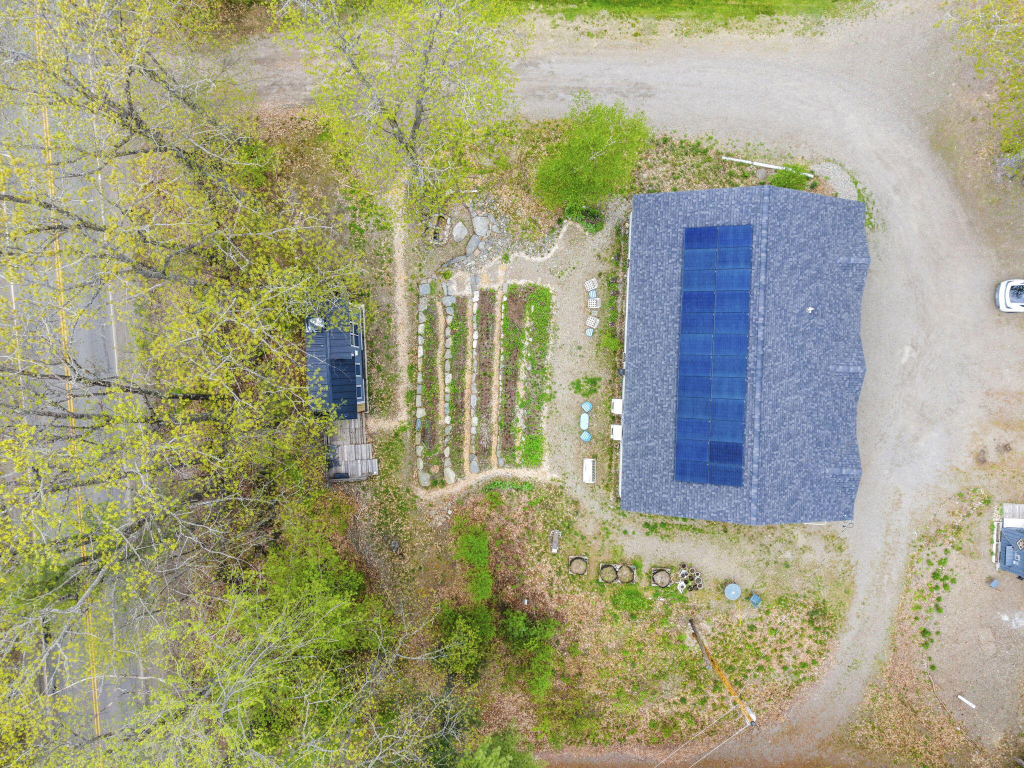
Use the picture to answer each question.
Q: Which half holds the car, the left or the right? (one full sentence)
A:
The car is on the right side of the image.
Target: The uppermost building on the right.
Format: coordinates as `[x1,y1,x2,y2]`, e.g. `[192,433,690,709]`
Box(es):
[615,185,871,526]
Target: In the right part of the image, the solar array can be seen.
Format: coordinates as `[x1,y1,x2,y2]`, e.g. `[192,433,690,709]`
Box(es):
[675,225,751,488]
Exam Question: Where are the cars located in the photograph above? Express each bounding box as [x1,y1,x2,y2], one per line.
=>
[991,278,1024,315]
